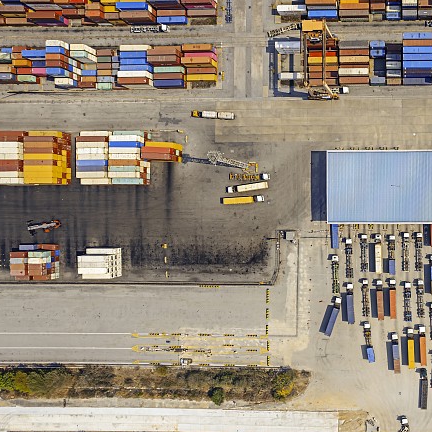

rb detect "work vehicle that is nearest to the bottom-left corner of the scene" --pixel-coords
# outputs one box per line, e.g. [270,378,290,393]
[18,219,59,237]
